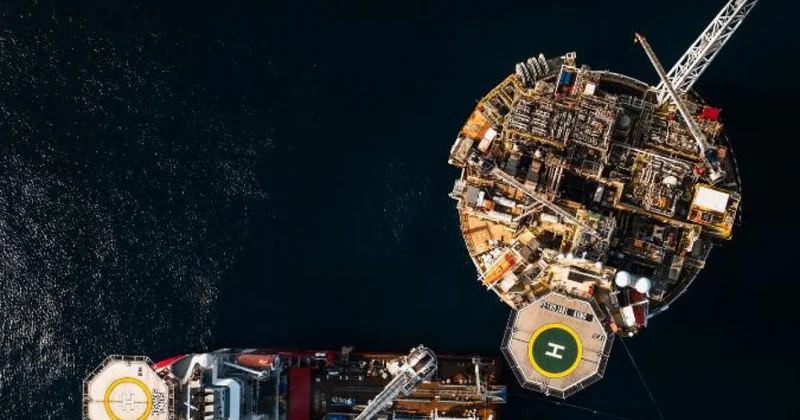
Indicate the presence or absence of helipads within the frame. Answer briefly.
Yes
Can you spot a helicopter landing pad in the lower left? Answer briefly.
Yes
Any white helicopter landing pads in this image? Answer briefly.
Yes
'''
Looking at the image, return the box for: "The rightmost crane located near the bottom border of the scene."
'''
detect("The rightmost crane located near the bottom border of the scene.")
[348,343,434,420]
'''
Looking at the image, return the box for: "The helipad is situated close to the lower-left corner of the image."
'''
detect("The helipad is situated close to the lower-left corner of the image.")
[82,355,175,420]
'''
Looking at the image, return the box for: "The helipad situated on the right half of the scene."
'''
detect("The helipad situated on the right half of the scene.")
[502,287,614,403]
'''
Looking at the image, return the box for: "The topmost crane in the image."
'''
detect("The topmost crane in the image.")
[628,30,727,184]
